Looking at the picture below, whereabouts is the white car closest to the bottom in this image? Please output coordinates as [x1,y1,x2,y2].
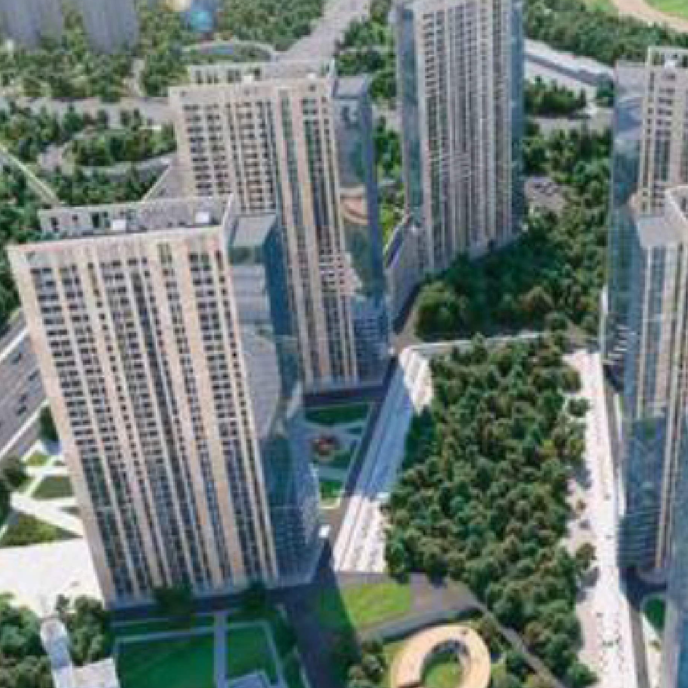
[317,526,332,540]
